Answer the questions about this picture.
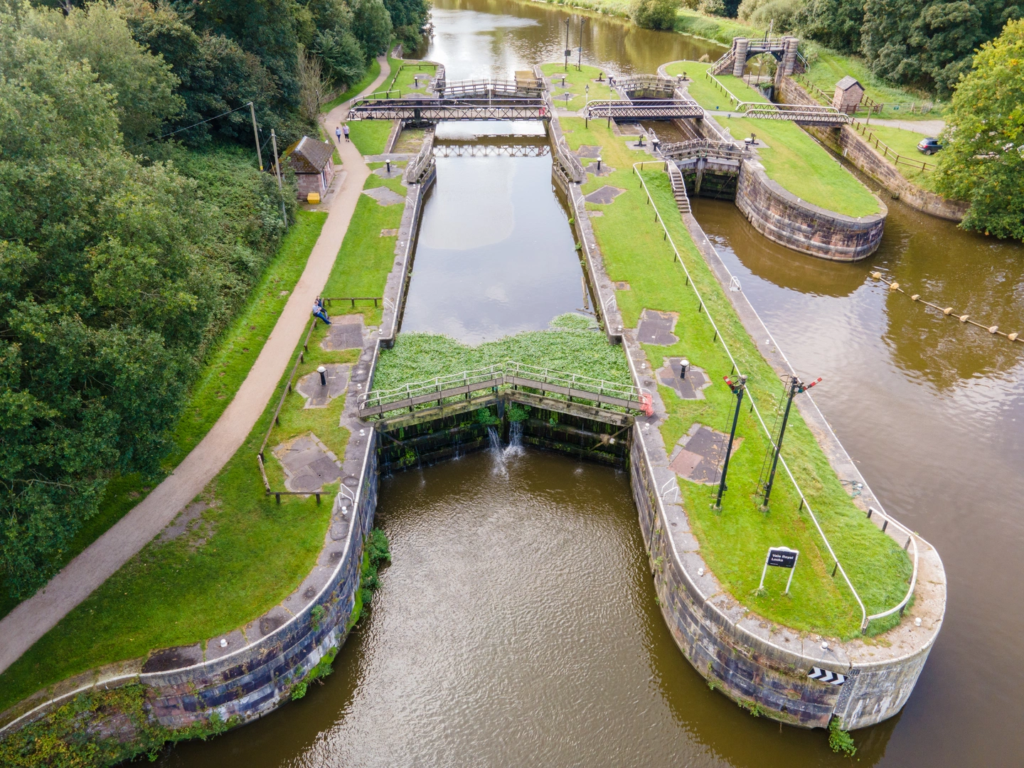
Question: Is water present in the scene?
Yes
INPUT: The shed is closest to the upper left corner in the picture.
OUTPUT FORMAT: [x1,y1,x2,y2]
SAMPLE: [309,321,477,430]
[268,137,336,203]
